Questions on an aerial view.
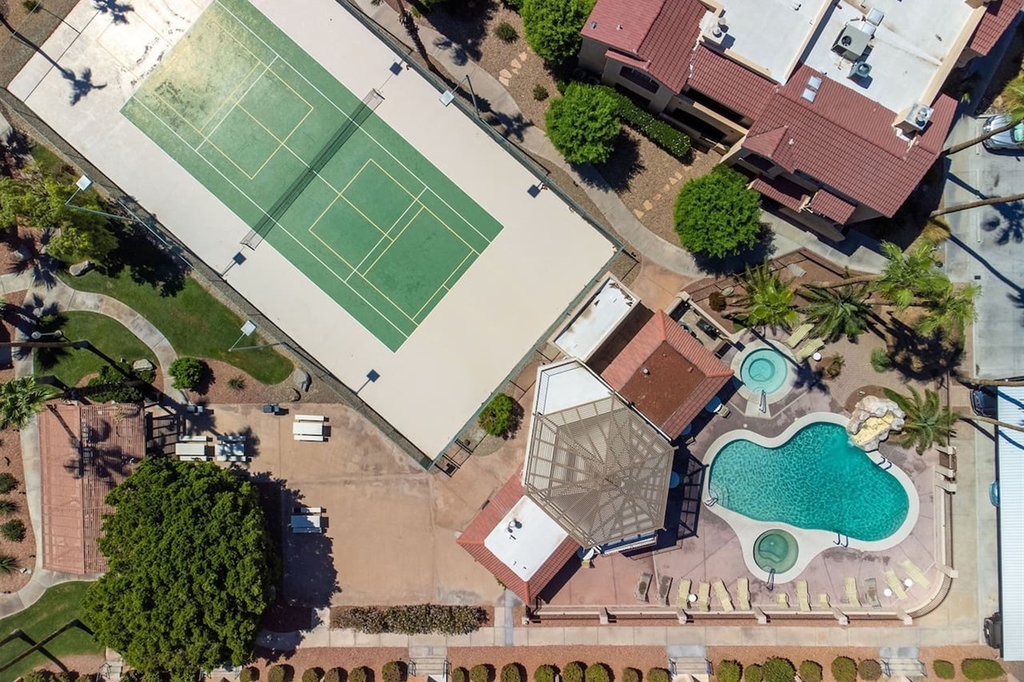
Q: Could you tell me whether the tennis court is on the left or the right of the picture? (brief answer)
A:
left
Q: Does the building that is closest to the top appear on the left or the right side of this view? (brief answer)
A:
right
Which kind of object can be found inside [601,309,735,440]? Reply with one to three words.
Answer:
building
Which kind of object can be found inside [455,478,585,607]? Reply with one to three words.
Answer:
building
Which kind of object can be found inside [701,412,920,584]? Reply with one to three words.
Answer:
swimming pool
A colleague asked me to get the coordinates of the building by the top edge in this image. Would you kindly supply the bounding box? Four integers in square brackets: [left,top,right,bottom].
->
[580,0,1019,259]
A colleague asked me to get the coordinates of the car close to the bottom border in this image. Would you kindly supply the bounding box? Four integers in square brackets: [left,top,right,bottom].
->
[982,612,1001,648]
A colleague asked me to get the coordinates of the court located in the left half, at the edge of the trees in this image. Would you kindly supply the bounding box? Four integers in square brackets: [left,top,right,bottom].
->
[9,0,618,460]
